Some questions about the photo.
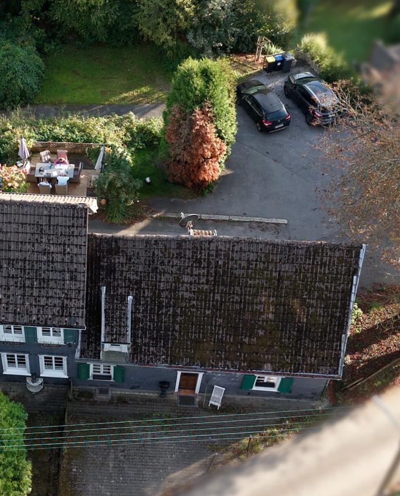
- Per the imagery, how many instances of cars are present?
two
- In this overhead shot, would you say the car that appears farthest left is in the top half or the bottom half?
top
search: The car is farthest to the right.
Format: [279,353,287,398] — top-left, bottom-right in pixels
[286,71,337,117]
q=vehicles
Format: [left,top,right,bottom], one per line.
[240,80,289,127]
[286,71,337,117]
